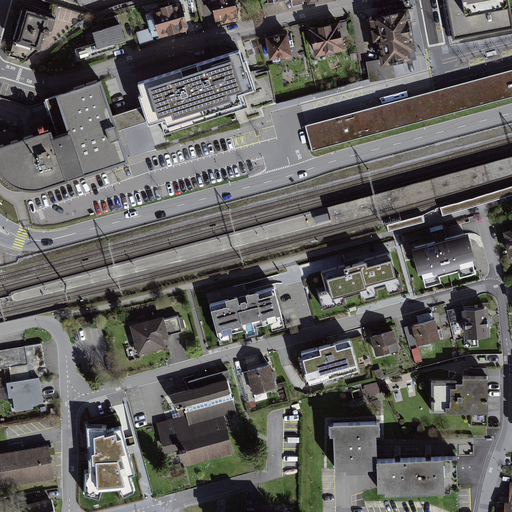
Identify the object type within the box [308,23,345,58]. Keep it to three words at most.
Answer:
house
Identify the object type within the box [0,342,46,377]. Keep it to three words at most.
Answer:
building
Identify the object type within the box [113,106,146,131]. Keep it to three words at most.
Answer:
building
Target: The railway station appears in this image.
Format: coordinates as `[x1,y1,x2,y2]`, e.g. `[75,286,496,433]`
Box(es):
[10,156,512,302]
